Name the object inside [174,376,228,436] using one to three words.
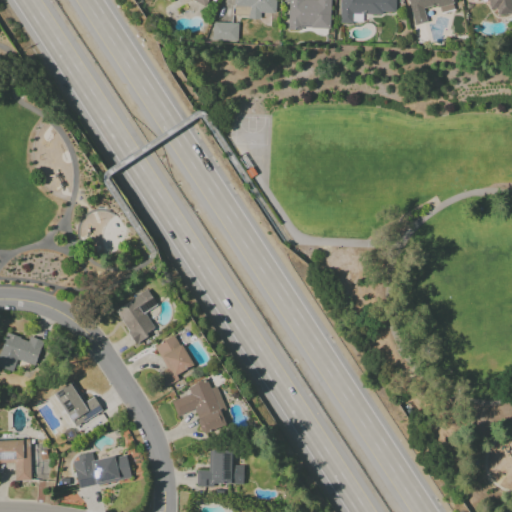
house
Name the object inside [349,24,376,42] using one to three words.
swimming pool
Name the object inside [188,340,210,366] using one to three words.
swimming pool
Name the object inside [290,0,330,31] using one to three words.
house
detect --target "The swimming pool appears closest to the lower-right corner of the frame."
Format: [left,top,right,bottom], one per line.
[250,488,278,500]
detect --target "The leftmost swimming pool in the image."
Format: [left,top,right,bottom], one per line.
[12,408,27,432]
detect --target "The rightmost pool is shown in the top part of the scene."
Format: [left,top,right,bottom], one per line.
[474,21,507,36]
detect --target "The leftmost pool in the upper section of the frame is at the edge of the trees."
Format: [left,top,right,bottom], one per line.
[175,16,204,32]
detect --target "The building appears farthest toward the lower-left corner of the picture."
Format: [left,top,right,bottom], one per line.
[0,440,32,479]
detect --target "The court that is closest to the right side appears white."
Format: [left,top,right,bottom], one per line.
[230,114,272,180]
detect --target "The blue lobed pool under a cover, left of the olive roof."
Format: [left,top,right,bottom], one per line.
[39,404,61,431]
